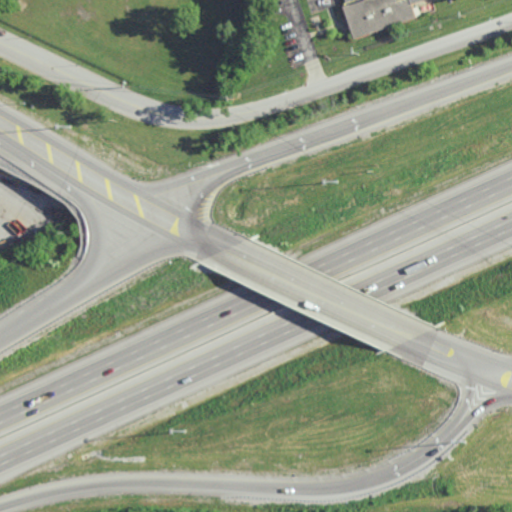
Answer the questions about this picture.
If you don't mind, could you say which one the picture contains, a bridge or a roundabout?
bridge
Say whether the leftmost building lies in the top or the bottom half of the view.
top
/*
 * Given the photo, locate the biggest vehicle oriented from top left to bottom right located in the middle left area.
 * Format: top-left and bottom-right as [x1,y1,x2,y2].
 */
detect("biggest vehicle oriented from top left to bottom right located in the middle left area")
[7,220,24,236]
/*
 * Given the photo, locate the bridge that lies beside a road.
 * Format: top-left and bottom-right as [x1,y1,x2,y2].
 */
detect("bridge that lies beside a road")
[187,232,446,357]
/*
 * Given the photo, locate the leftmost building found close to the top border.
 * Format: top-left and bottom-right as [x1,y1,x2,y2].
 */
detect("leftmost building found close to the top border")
[342,0,416,38]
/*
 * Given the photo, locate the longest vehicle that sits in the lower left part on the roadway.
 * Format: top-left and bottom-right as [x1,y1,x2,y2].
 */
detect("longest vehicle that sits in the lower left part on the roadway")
[30,392,54,406]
